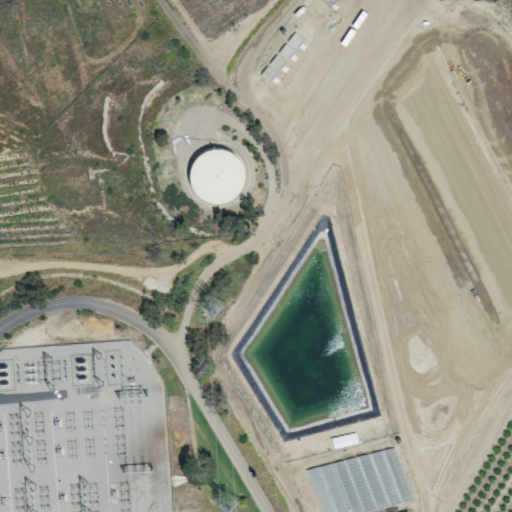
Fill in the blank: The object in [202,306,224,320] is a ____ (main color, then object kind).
gray pylon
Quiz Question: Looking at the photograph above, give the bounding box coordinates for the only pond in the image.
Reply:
[232,214,380,440]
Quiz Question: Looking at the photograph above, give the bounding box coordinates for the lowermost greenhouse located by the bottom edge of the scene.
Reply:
[306,448,414,512]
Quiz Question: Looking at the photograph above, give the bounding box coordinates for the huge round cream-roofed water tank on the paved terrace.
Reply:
[190,148,246,206]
